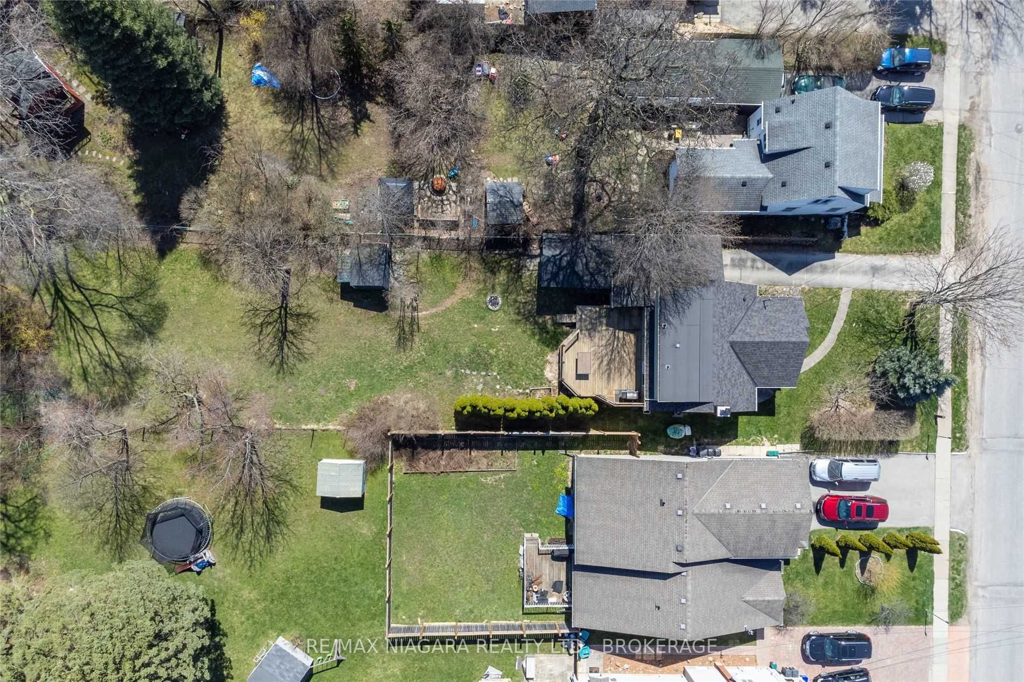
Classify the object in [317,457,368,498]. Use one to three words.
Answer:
shed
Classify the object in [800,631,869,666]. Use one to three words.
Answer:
car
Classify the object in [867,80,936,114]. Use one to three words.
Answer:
car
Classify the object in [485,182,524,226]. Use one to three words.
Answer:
shed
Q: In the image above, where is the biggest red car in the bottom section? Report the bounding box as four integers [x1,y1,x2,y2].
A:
[814,493,887,526]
